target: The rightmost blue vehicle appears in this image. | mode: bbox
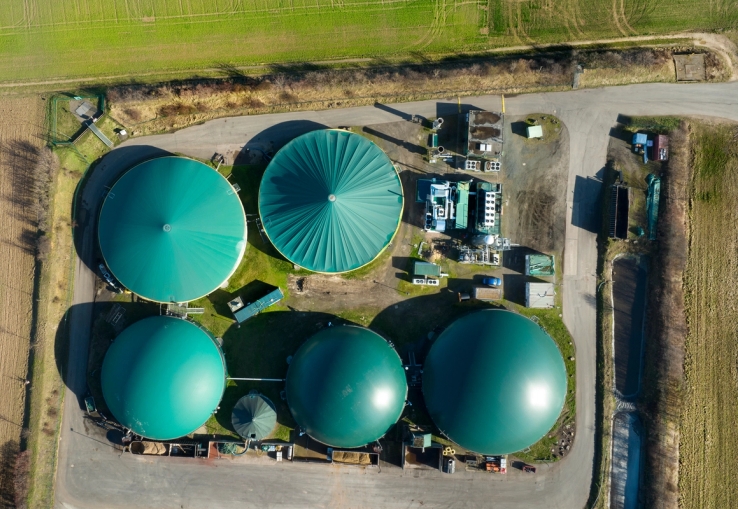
[631,132,648,162]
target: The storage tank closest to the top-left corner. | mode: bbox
[99,156,250,309]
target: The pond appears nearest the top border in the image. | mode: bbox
[614,254,650,402]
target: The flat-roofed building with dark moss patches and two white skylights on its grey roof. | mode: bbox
[466,111,504,162]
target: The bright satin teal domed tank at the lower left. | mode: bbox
[102,314,231,440]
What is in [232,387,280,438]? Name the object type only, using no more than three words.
silo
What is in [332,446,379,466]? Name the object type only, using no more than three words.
trailer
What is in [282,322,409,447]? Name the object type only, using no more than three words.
storage tank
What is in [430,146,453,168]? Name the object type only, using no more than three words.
chimney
